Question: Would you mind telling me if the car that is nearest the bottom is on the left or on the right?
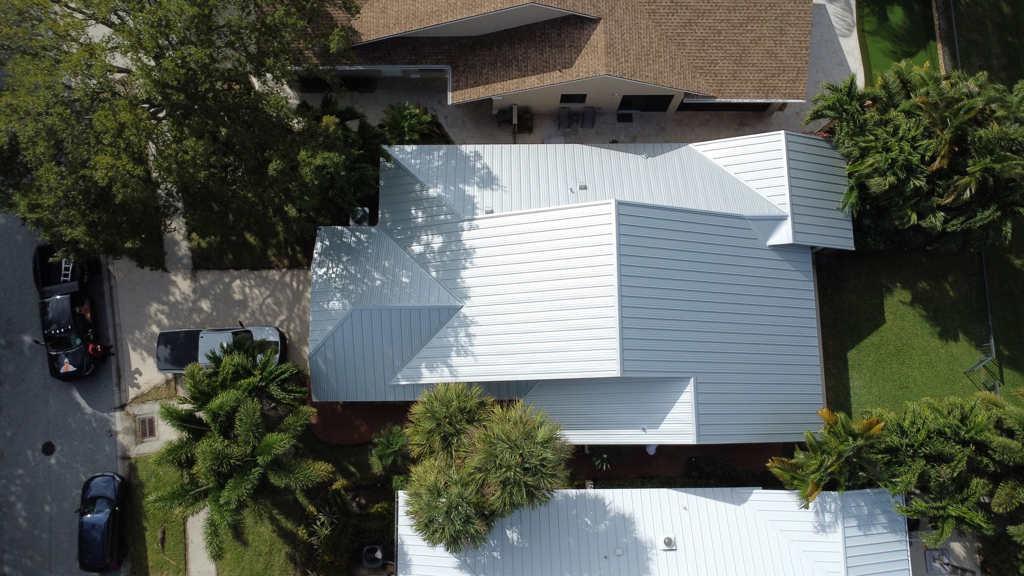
left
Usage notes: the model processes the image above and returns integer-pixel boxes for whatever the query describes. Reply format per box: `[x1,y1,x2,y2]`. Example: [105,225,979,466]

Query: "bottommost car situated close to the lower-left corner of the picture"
[70,472,130,576]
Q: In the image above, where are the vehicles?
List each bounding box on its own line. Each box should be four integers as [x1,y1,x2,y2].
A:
[29,240,101,382]
[152,320,289,380]
[70,472,130,576]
